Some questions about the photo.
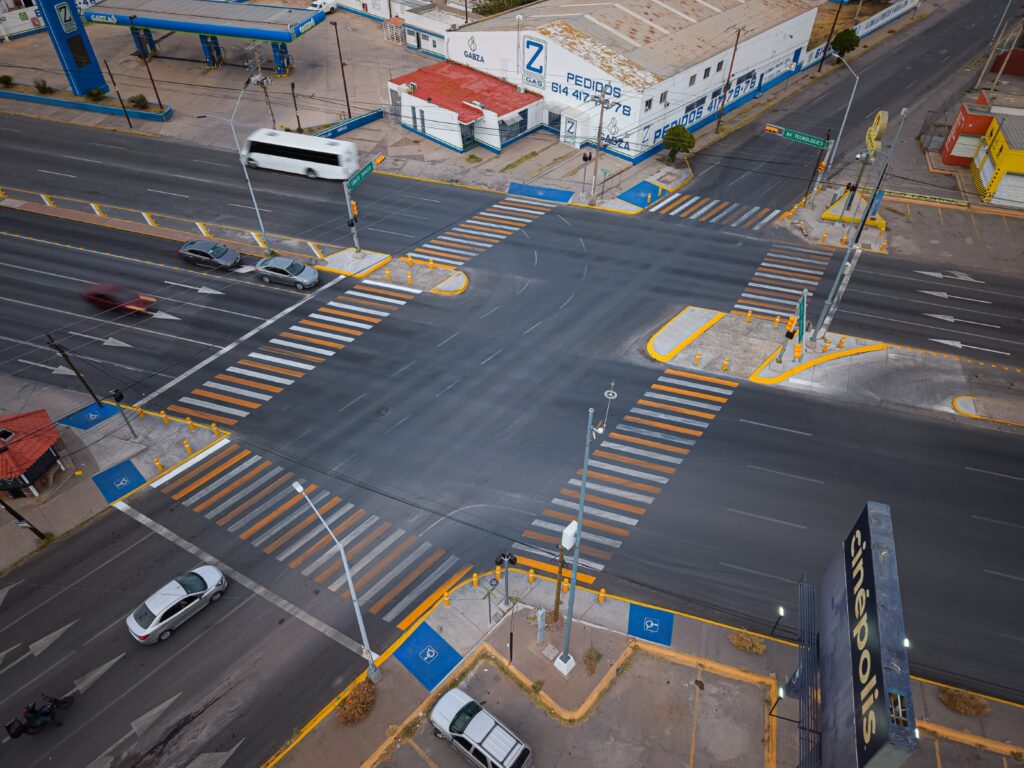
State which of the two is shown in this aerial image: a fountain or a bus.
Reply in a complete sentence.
It is a bus that can be seen here.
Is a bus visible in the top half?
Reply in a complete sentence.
Yes, I can see a bus in the top half.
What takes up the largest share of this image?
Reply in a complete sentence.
What you mostly see from above here is paved ground.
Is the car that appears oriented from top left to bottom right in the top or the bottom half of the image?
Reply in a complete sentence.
The car that appears oriented from top left to bottom right is in the bottom half of the image.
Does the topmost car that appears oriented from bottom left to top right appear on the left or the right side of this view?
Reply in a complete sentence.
You can find the topmost car that appears oriented from bottom left to top right on the left side of the picture.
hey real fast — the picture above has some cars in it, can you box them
[124,564,226,647]
[430,690,538,768]
[89,281,151,316]
[183,239,245,269]
[255,257,319,289]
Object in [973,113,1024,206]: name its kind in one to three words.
building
